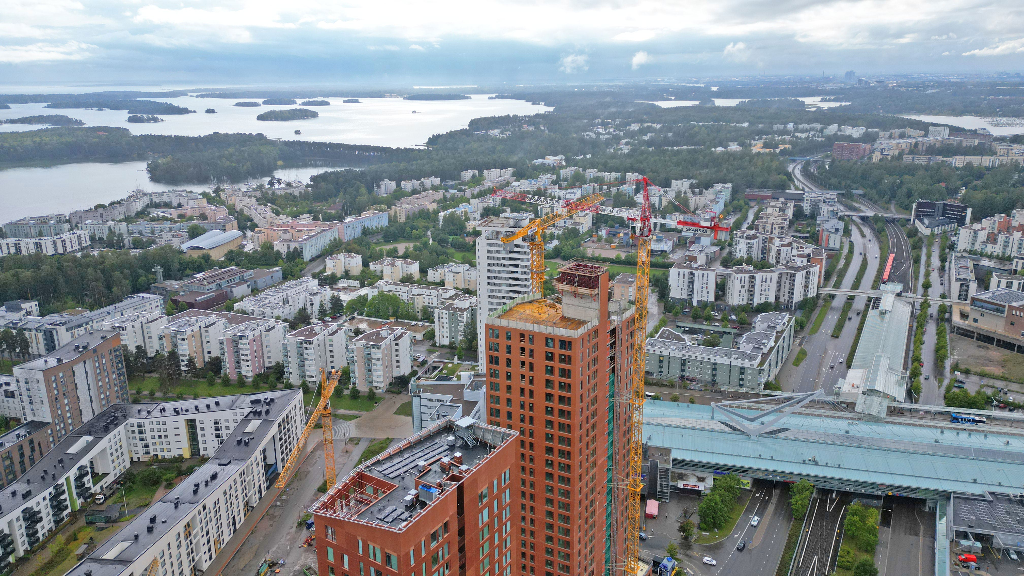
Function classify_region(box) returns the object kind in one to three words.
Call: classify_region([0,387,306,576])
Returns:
building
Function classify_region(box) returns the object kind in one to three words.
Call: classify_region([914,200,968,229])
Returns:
building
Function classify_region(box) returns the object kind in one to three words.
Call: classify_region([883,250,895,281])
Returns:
train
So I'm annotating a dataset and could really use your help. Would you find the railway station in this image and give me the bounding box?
[832,282,913,422]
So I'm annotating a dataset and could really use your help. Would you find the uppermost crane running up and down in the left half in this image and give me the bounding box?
[275,365,342,501]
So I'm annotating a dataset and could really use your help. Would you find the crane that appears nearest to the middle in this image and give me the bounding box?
[498,193,604,295]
